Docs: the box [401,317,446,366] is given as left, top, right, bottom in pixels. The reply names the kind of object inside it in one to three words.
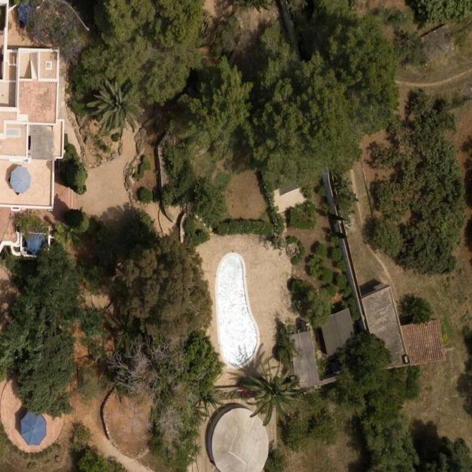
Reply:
shed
